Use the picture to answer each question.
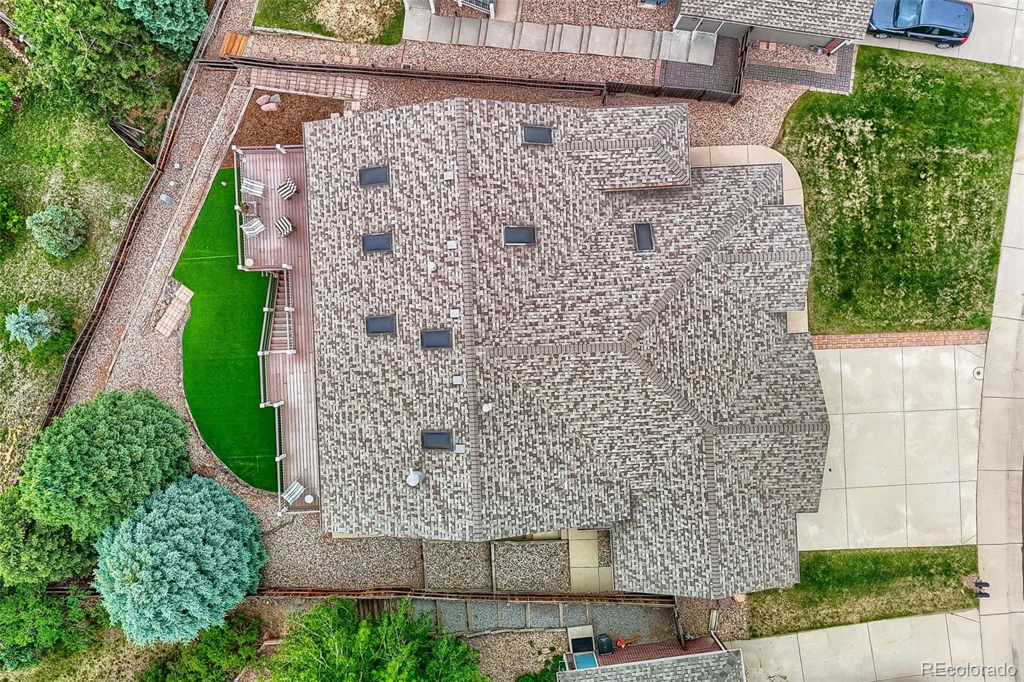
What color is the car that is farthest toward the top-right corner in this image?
blue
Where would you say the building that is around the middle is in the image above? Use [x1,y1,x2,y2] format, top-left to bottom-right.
[299,96,830,599]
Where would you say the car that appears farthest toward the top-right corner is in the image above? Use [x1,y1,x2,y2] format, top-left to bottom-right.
[867,0,981,51]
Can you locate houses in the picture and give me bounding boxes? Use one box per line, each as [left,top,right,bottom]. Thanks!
[670,0,876,52]
[553,633,747,682]
[299,96,830,599]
